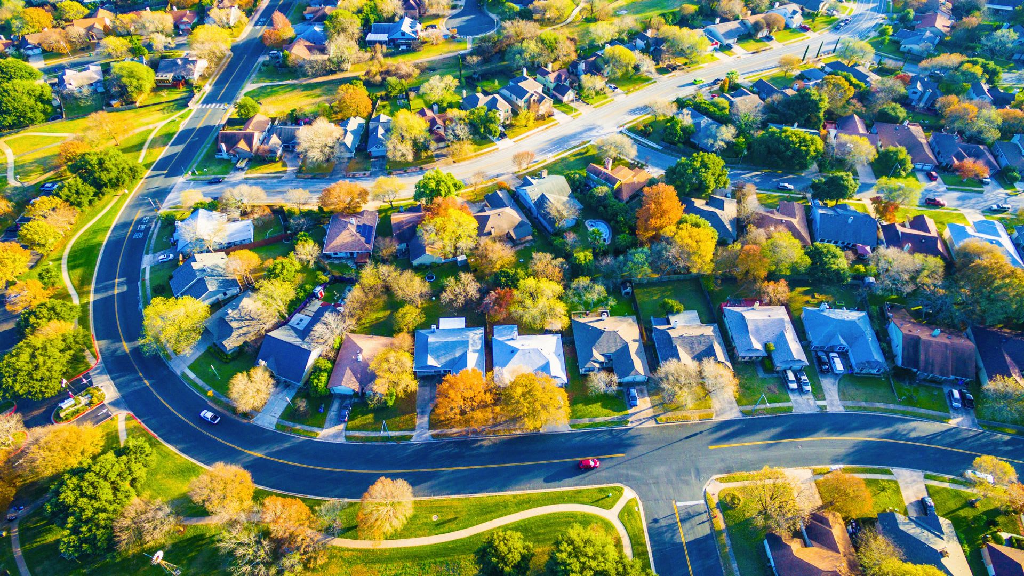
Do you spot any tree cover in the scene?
Yes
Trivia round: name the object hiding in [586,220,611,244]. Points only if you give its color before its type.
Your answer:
blue swimming pool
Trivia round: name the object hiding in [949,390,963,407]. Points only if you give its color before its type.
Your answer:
blue car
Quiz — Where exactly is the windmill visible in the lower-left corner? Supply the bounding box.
[144,547,186,576]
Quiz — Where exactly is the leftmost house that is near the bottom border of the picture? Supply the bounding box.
[759,512,863,576]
